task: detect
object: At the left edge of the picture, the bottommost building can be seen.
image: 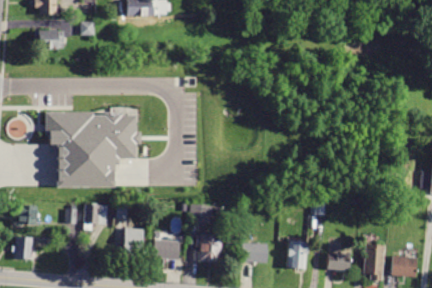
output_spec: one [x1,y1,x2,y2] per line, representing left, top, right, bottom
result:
[14,236,33,261]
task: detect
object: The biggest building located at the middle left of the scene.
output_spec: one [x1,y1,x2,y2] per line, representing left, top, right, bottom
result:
[44,106,142,187]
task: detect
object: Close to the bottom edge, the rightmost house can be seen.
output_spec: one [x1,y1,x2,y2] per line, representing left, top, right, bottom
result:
[392,254,418,279]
